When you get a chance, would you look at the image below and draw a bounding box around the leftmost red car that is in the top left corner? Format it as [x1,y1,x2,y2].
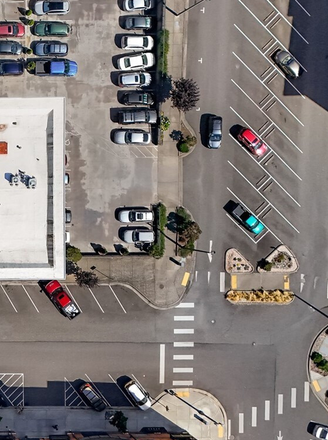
[0,21,25,38]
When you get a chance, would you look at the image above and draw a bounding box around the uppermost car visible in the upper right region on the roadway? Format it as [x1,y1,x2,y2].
[269,48,302,79]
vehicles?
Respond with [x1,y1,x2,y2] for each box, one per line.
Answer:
[205,114,223,148]
[0,39,22,56]
[117,108,158,125]
[121,227,156,244]
[115,53,153,70]
[33,0,69,16]
[112,129,150,145]
[32,40,68,56]
[66,231,71,244]
[122,90,154,106]
[269,48,302,79]
[0,21,25,38]
[34,59,75,76]
[120,0,154,13]
[309,424,328,440]
[227,200,263,237]
[66,209,72,224]
[0,61,23,77]
[120,34,153,51]
[33,20,69,37]
[120,14,152,31]
[236,126,268,159]
[76,378,107,412]
[116,208,153,224]
[117,72,151,87]
[122,375,151,409]
[45,280,77,320]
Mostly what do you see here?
paved ground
